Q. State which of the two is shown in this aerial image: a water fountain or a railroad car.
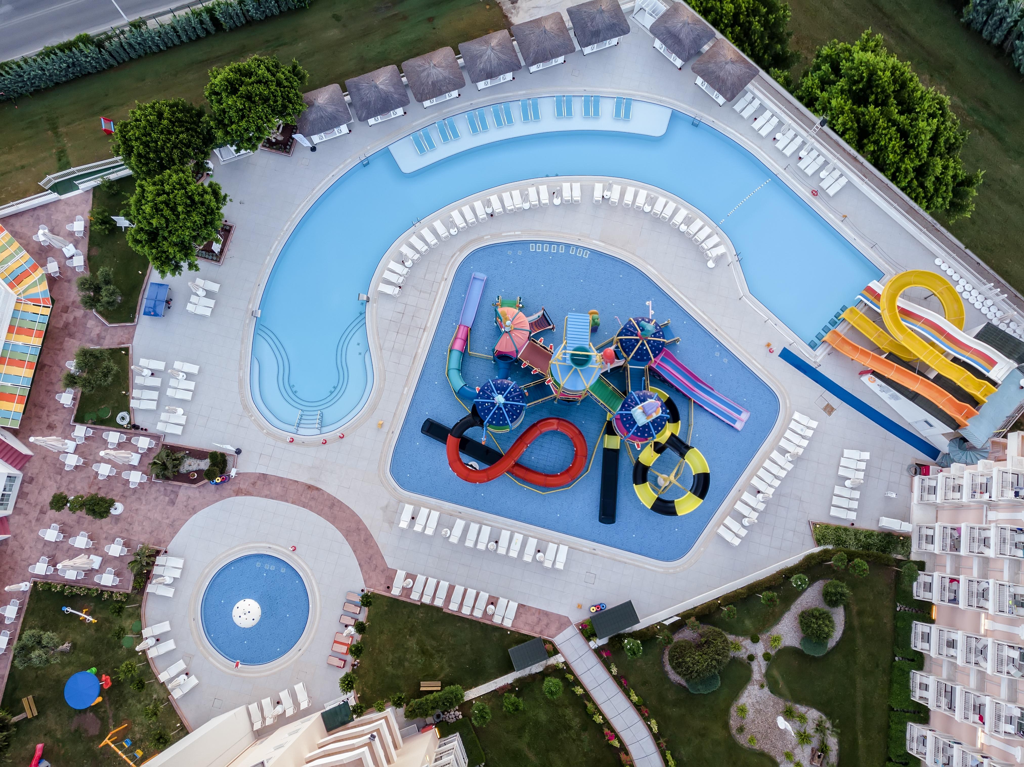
water fountain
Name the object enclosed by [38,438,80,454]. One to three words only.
umbrella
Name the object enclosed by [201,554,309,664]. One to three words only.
swimming pool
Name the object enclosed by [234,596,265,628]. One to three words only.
fountain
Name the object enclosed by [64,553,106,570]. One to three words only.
umbrella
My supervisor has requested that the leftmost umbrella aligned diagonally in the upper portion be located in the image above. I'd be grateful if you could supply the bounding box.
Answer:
[38,231,75,259]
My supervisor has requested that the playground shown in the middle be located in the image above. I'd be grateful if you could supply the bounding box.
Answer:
[425,270,752,522]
